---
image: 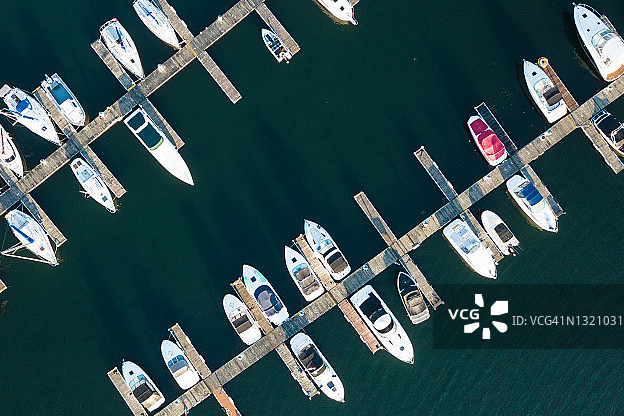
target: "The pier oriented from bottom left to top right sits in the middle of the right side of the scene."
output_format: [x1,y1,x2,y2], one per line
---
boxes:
[352,76,624,288]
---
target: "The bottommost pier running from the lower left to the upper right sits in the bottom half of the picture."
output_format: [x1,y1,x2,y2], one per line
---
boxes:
[152,275,361,416]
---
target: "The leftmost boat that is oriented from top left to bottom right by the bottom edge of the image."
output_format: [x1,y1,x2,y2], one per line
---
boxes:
[119,361,166,415]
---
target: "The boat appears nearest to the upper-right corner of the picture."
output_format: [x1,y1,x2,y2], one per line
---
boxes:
[569,0,624,84]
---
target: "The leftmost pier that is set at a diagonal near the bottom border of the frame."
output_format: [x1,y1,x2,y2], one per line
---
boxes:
[108,367,150,416]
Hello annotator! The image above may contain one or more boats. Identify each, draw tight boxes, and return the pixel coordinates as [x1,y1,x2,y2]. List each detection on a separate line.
[134,0,187,48]
[399,259,433,322]
[290,330,345,405]
[119,361,166,415]
[1,82,66,144]
[124,105,194,185]
[162,330,203,389]
[238,264,291,328]
[285,242,327,300]
[501,172,562,234]
[224,285,266,342]
[71,156,116,213]
[42,72,84,128]
[316,0,357,26]
[590,106,624,154]
[441,217,499,279]
[300,219,351,282]
[478,210,522,254]
[469,115,512,165]
[349,278,415,365]
[521,59,569,123]
[569,0,624,84]
[262,24,292,62]
[3,203,59,265]
[0,125,28,178]
[103,22,147,83]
